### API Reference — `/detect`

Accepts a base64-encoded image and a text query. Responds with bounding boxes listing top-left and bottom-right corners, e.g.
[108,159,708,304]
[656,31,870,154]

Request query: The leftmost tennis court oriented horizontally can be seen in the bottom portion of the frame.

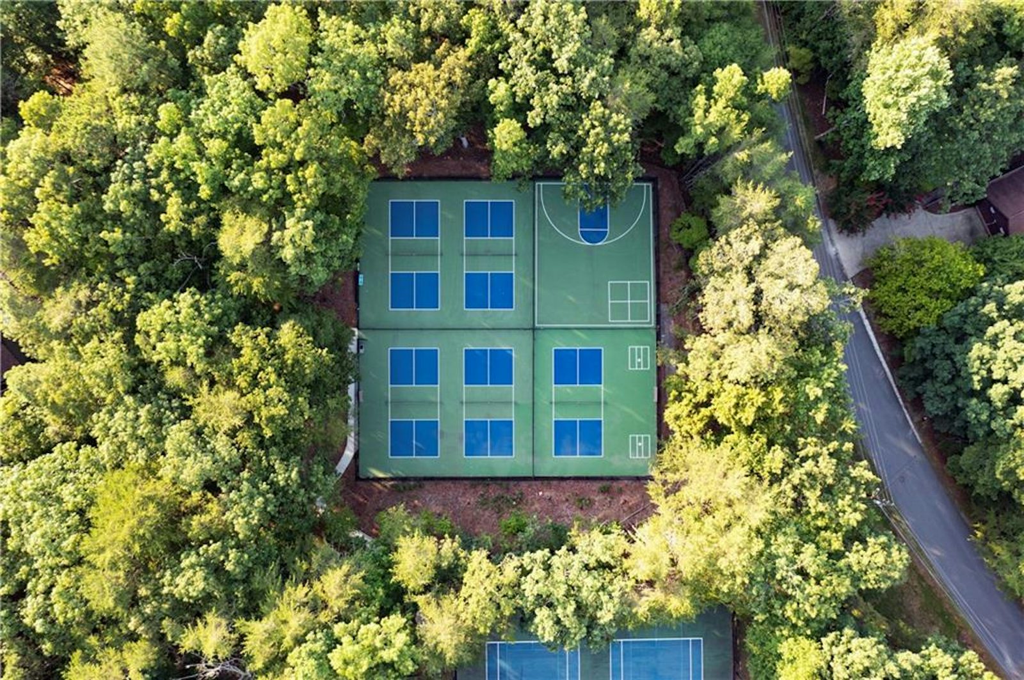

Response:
[487,642,580,680]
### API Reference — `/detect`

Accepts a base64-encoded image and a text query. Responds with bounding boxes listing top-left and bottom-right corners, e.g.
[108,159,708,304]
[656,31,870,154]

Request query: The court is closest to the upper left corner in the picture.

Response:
[390,200,440,310]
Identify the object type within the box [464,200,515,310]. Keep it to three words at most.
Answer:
sports court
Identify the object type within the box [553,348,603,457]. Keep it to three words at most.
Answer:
sports court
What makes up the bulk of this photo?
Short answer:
trees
